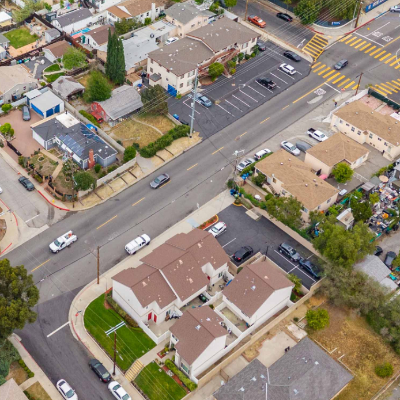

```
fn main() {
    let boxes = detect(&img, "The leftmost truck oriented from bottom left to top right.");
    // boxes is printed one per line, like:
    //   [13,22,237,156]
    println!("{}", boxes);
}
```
[46,227,80,255]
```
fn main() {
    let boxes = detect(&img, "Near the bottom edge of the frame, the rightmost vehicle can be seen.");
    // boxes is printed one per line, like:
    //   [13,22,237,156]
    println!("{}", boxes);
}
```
[106,380,133,400]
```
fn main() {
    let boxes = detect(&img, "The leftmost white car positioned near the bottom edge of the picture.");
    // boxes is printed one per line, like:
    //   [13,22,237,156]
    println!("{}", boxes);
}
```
[52,378,80,400]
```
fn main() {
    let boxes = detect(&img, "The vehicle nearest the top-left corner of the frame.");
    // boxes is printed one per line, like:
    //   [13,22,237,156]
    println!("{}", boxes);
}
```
[17,106,34,121]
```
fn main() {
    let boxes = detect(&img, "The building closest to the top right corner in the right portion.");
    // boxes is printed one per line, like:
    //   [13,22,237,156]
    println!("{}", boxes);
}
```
[333,91,400,160]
